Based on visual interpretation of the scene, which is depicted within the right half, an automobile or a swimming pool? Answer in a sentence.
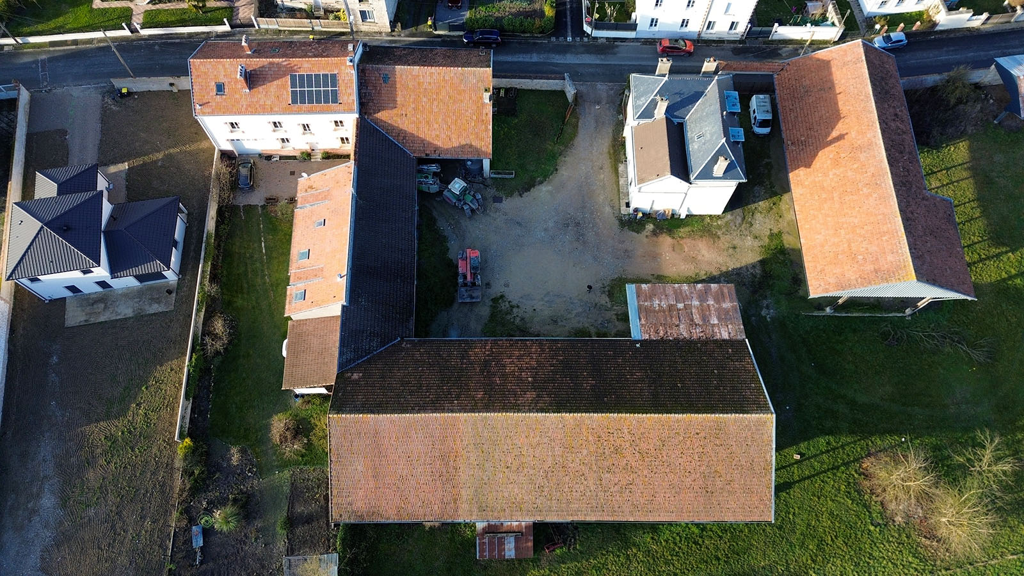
There is an automobile within the right half.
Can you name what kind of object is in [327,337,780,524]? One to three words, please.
barn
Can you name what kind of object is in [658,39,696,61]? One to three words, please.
car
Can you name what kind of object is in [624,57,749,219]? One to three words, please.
house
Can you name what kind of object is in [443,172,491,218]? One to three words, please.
work vehicle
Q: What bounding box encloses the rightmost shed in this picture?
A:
[986,59,1024,131]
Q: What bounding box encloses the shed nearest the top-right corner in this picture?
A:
[935,0,985,29]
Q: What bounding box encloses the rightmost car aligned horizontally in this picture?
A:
[874,31,914,50]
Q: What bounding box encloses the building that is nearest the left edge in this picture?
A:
[6,163,190,295]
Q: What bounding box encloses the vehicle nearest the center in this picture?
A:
[455,244,482,305]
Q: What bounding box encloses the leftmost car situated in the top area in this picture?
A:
[232,155,254,194]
